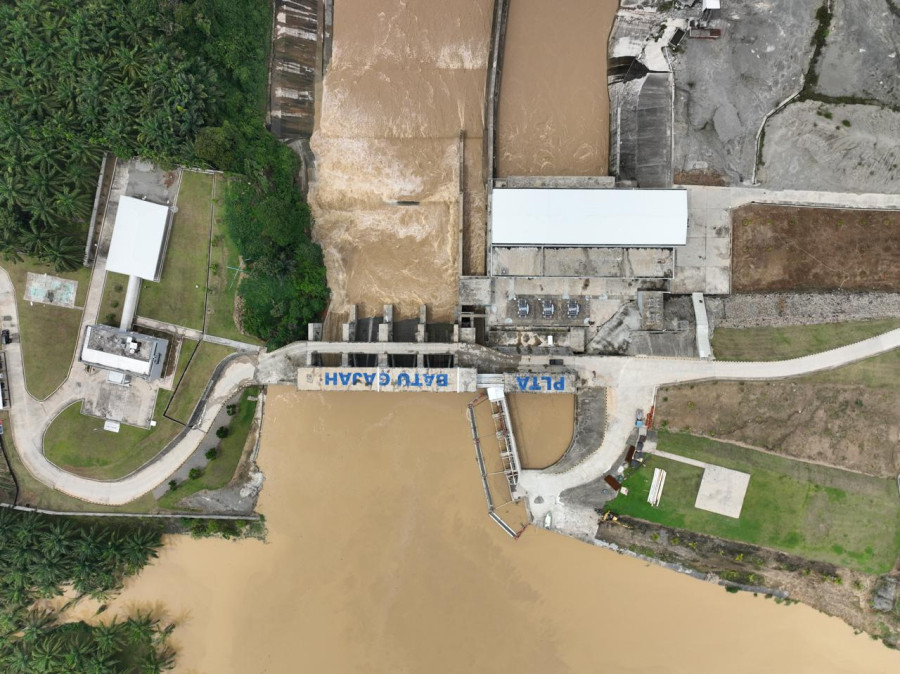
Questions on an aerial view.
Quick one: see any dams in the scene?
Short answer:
Yes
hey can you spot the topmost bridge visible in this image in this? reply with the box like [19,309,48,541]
[306,342,459,354]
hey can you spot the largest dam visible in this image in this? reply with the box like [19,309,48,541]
[308,305,463,367]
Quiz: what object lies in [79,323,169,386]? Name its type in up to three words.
building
